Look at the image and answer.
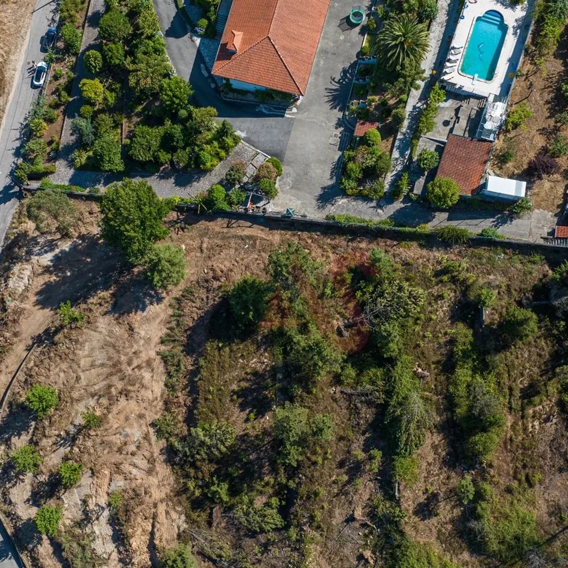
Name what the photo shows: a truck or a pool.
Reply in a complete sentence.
Visible in the photo is a pool.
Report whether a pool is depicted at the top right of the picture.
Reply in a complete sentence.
Yes, the scene does show a pool at the top right of the picture.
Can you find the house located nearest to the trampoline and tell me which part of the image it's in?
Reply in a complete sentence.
The house located nearest to the trampoline is in the top part of the image.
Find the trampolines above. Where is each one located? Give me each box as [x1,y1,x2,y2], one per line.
[349,5,366,25]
